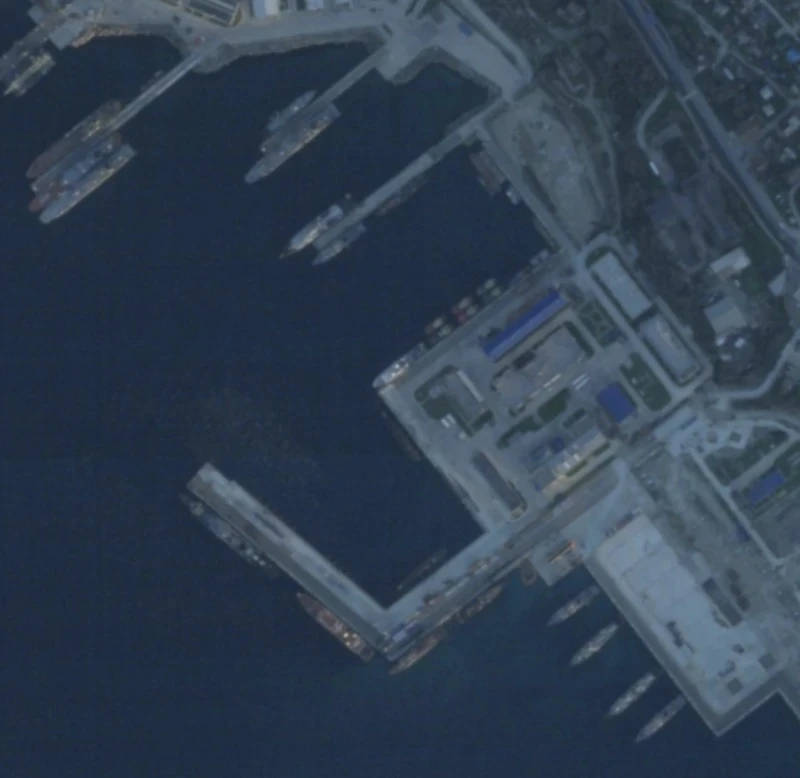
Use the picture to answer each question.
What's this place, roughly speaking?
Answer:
port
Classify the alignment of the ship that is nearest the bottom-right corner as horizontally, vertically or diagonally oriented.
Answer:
diagonally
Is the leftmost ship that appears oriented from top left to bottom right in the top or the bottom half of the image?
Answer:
bottom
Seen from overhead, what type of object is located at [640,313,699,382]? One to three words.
building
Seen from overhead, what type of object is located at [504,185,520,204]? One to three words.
boat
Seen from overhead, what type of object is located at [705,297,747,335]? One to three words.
building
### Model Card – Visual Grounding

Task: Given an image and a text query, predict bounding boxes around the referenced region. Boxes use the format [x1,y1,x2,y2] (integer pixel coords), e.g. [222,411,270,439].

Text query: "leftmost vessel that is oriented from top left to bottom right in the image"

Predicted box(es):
[177,491,284,583]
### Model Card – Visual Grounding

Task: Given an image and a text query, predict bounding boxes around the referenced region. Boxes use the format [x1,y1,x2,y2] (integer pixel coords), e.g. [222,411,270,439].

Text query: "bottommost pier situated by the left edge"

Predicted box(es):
[34,52,202,190]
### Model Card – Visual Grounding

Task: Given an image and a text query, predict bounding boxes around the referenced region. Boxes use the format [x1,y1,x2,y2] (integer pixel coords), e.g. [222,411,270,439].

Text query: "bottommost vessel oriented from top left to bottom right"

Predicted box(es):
[297,594,378,666]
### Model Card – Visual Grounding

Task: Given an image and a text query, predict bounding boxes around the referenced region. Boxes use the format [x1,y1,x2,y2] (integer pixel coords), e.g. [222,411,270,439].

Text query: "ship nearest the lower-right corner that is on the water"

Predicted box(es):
[637,694,688,743]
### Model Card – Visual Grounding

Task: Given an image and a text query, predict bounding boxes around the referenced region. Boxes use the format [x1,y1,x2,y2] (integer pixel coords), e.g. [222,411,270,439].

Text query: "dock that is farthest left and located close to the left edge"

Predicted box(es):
[0,20,58,74]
